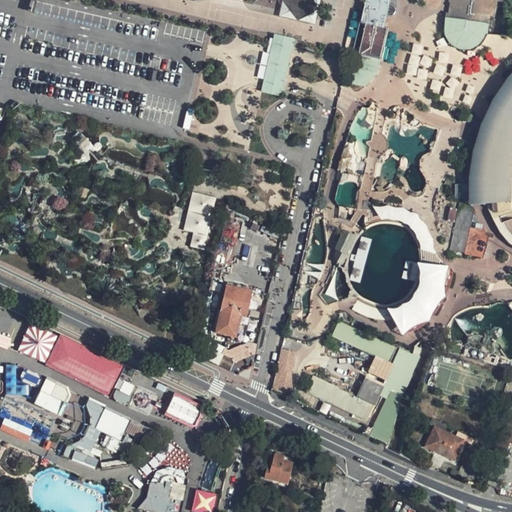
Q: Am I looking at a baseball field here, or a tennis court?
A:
tennis court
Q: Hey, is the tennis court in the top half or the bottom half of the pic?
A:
bottom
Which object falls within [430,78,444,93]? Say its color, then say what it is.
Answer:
white umbrella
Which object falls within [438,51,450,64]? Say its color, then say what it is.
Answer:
white umbrella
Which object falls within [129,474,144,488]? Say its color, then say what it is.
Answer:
white vehicle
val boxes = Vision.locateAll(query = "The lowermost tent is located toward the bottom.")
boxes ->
[191,490,217,512]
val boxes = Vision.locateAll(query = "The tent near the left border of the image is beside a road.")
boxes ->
[18,327,58,364]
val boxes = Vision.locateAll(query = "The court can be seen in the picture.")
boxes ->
[428,360,494,400]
